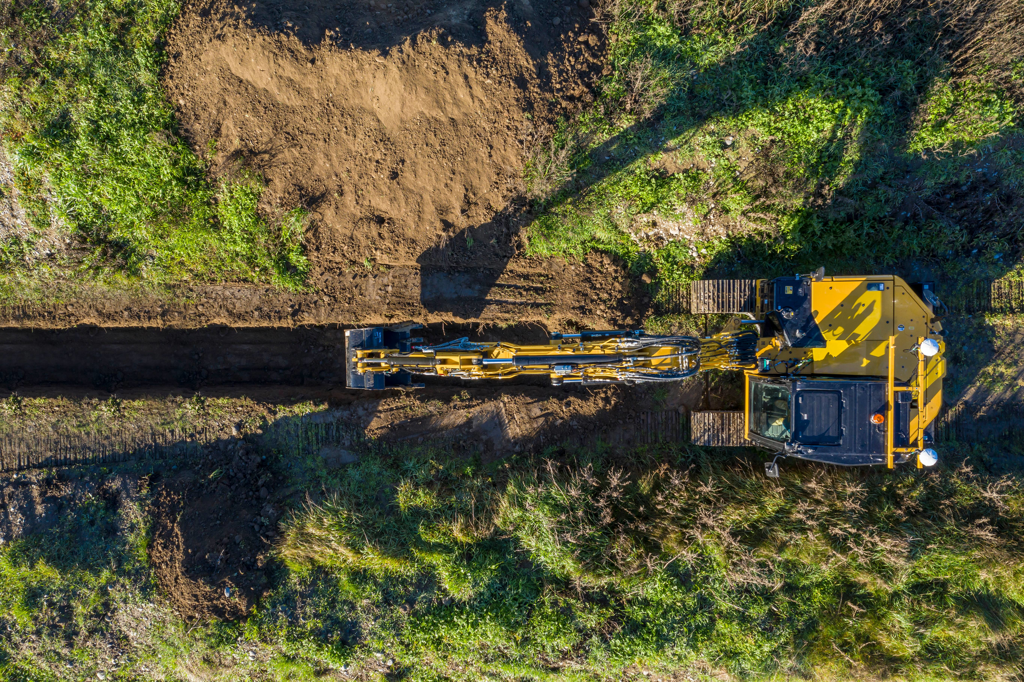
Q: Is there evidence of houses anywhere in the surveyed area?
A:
No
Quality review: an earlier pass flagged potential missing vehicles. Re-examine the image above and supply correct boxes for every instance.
[345,267,950,476]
